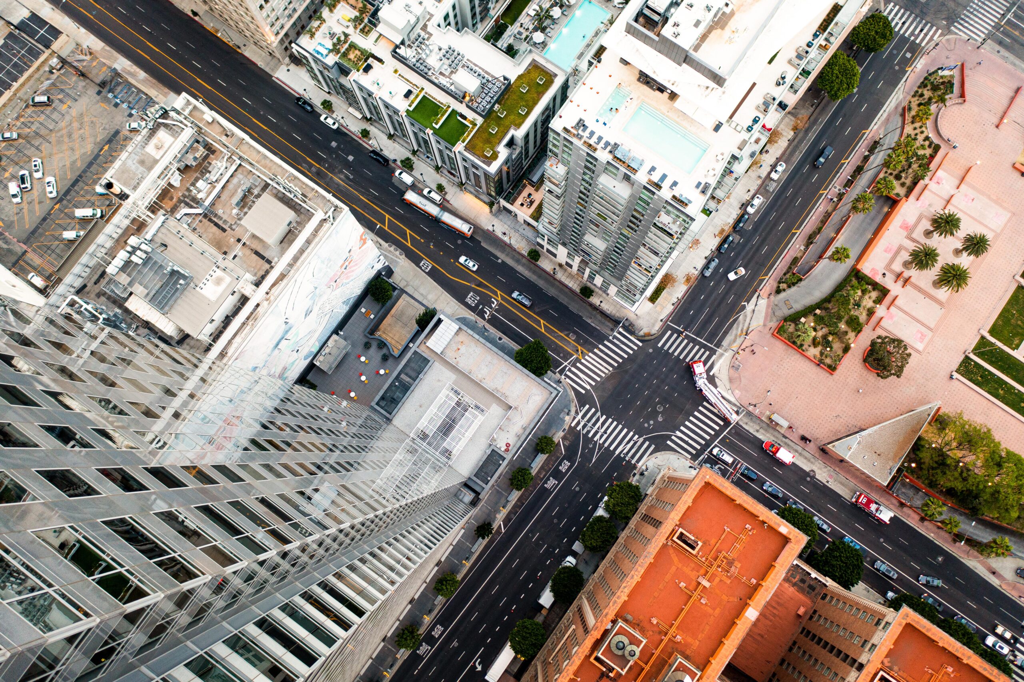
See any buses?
Yes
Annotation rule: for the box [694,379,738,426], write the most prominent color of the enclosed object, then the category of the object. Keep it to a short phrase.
white trailer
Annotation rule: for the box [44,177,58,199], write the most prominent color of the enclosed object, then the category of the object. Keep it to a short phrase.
white car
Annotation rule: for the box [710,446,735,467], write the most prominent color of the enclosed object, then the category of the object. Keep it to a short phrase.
white car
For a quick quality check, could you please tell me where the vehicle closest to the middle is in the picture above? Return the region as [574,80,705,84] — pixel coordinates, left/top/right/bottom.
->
[511,290,533,309]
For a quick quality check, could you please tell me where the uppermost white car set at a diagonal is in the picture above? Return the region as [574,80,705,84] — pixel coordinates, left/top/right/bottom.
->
[319,114,340,131]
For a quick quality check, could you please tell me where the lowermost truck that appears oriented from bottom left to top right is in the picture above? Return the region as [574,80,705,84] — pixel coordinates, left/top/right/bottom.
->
[487,641,516,682]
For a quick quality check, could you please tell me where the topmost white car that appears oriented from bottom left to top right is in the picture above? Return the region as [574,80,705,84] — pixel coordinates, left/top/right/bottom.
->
[768,162,787,182]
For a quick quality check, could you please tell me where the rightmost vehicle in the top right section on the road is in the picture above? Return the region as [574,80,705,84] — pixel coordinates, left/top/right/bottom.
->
[814,145,834,168]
